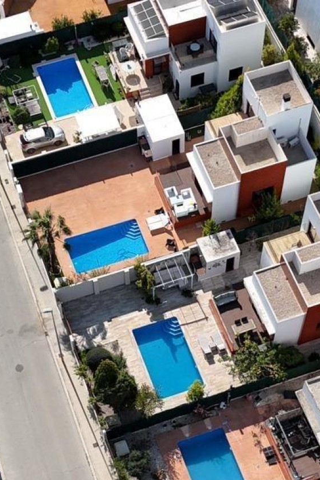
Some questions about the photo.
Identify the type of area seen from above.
residential area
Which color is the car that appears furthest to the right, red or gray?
gray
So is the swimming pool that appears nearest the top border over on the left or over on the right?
left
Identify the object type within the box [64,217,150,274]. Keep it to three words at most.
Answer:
swimming pool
